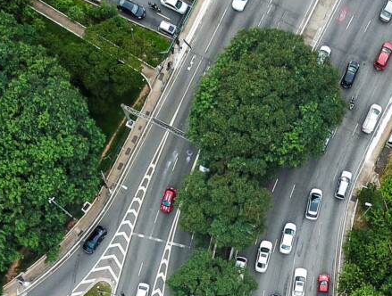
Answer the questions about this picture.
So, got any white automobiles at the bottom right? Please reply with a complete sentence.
Yes, a white automobile is visible at the bottom right.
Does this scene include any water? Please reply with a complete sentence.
No, the scene doesn't show any water.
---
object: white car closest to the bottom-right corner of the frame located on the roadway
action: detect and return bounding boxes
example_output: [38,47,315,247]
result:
[292,269,307,296]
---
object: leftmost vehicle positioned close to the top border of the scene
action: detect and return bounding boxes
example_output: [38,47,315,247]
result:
[116,0,146,20]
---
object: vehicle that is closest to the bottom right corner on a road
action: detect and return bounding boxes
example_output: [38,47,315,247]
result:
[317,273,331,296]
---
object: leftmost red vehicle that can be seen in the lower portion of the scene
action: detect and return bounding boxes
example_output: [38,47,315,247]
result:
[159,184,178,214]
